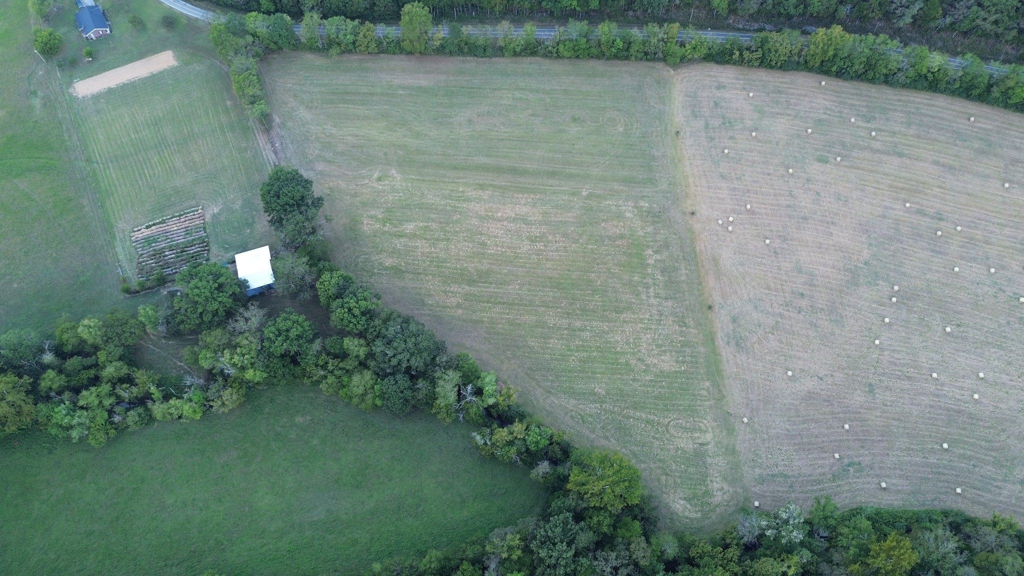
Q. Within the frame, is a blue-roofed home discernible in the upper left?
Yes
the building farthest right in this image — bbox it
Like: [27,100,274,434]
[235,245,277,297]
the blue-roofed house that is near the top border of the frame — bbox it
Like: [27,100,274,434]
[76,5,111,41]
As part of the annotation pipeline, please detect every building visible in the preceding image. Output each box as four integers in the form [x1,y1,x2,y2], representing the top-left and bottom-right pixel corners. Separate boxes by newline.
[235,245,277,297]
[76,5,111,41]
